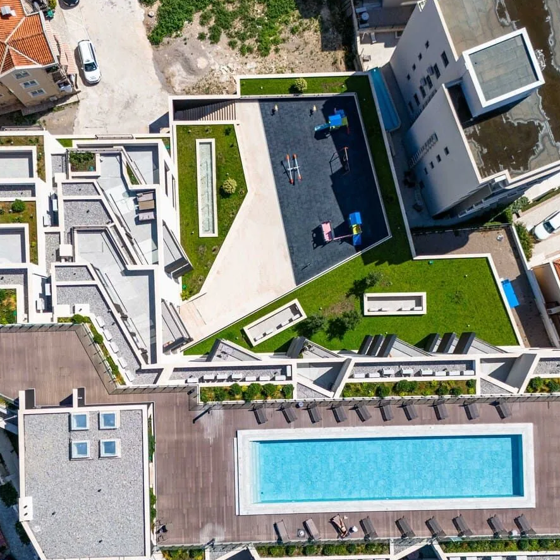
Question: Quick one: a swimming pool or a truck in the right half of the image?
swimming pool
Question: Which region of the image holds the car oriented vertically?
top left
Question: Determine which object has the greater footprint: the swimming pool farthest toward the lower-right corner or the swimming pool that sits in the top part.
the swimming pool farthest toward the lower-right corner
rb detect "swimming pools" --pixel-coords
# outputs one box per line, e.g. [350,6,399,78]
[268,435,518,499]
[373,71,399,134]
